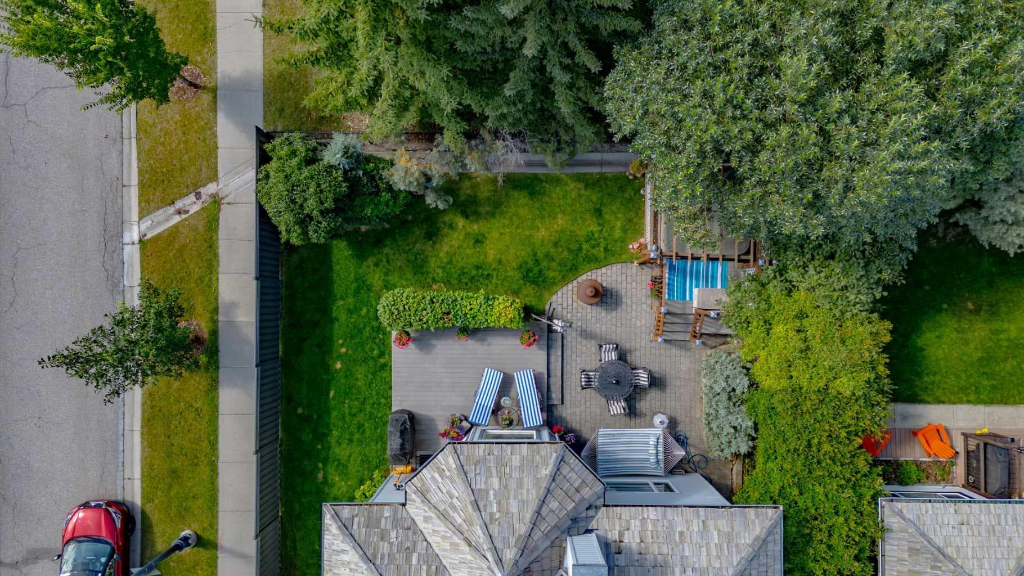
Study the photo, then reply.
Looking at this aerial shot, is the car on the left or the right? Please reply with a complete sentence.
The car appears in the left half of the scene.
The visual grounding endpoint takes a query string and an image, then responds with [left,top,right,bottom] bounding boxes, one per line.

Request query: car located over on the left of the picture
[49,497,134,576]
